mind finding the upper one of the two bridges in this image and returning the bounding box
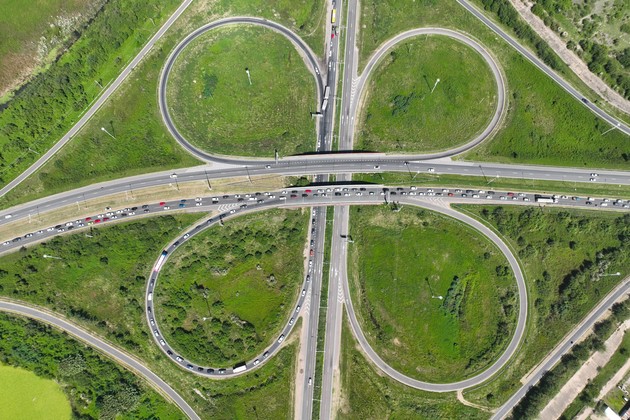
[272,151,393,176]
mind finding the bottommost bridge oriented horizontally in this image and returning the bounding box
[265,184,394,210]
